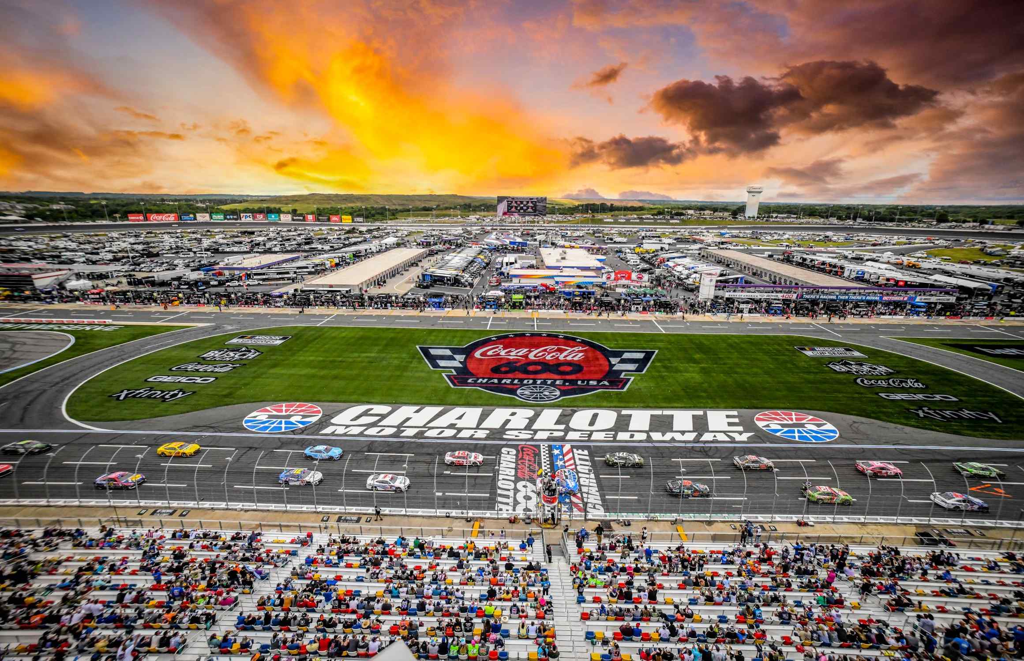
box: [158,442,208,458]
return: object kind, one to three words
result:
car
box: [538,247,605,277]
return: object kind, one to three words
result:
building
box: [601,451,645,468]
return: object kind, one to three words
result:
car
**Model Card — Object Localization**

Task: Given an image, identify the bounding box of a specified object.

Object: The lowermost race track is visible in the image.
[0,432,1024,521]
